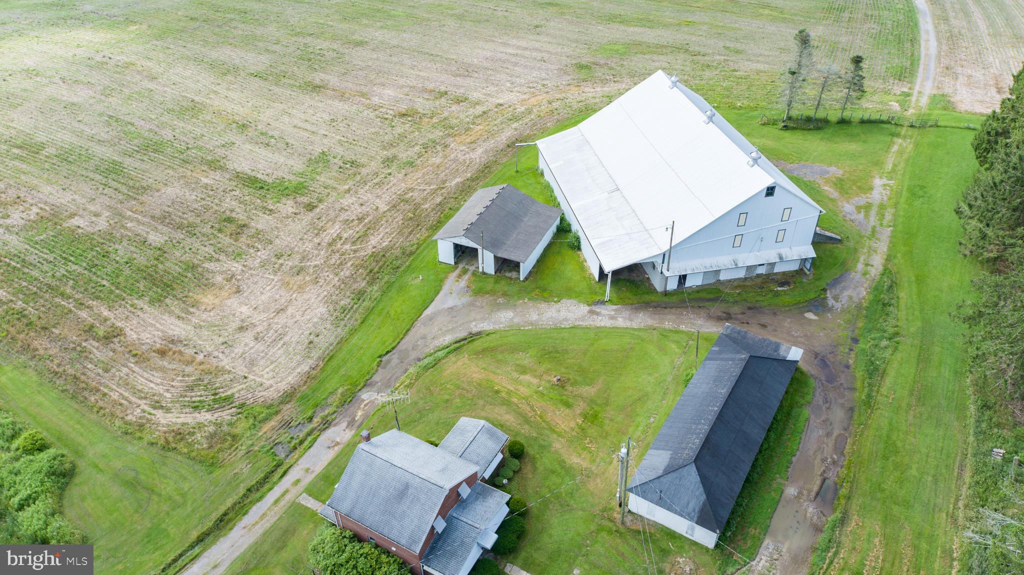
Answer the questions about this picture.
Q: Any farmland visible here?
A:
Yes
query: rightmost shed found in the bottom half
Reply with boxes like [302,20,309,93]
[627,325,802,549]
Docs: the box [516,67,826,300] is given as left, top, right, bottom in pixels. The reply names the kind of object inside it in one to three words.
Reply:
barn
